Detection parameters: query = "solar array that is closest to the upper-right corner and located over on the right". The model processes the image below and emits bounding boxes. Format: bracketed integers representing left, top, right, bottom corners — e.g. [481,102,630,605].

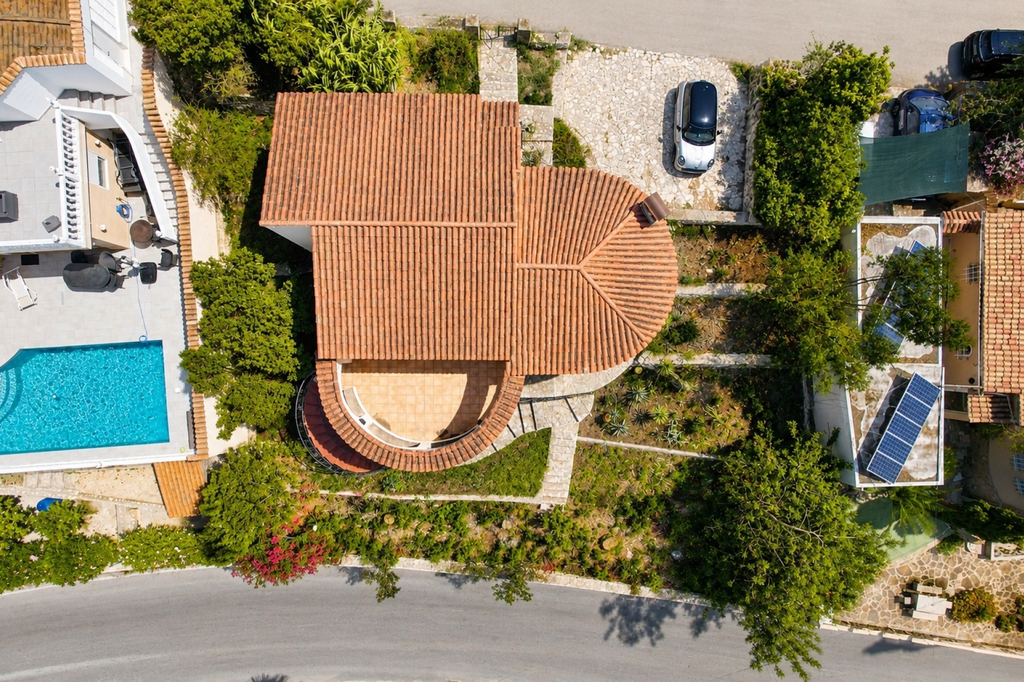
[858,240,942,350]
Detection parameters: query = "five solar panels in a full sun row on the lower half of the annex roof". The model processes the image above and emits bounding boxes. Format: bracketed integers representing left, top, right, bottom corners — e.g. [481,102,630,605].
[848,371,941,485]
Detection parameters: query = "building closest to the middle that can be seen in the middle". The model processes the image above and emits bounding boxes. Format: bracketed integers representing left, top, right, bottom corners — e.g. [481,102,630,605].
[257,92,681,473]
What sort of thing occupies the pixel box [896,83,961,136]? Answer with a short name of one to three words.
car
